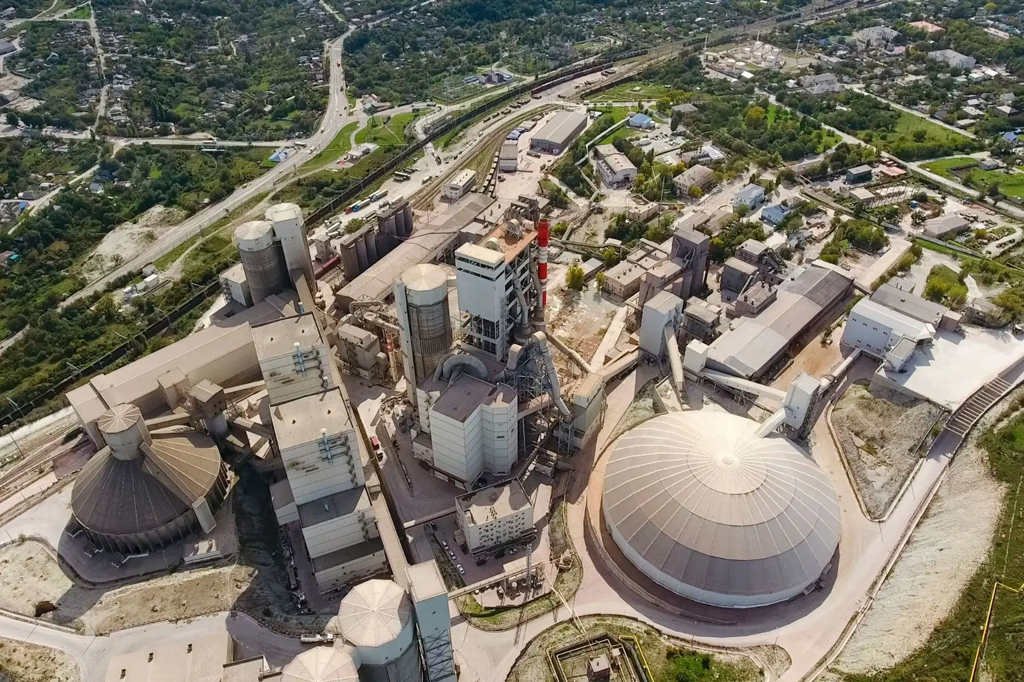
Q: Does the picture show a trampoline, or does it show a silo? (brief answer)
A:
silo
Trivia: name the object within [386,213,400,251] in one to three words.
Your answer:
silo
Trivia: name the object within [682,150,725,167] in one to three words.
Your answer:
house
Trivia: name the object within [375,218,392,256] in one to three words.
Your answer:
silo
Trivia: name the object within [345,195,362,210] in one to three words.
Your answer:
vehicle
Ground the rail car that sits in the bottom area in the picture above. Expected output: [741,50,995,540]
[63,425,85,442]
